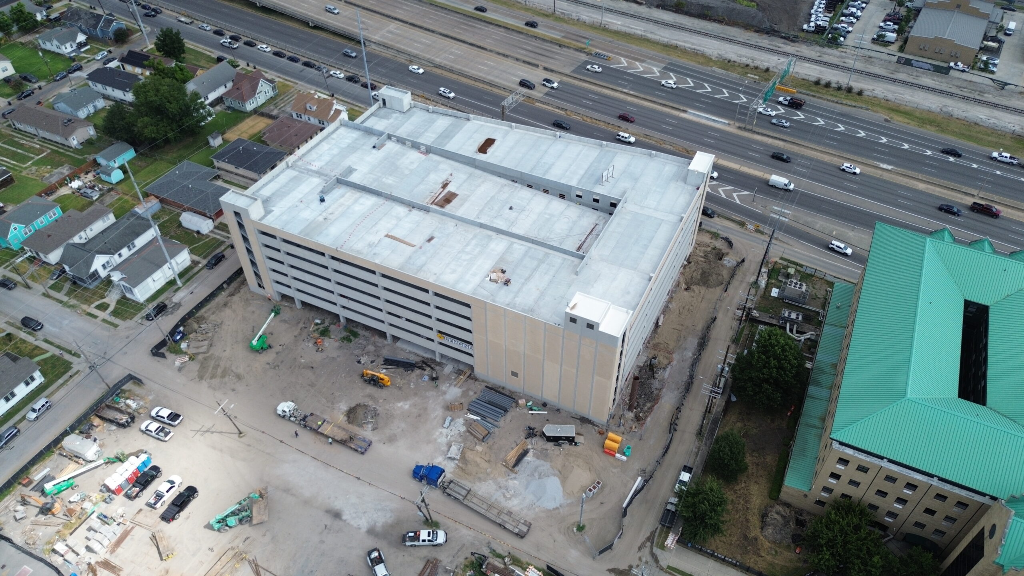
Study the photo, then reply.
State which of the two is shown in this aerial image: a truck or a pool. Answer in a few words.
truck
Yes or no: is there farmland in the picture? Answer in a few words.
No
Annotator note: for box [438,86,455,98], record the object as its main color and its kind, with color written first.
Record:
white vehicle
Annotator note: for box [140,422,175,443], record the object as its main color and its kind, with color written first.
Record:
white truck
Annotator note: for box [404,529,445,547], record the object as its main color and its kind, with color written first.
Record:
white vehicle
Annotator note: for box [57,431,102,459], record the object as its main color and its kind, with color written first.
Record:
white trailer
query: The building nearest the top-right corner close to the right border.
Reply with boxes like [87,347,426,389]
[893,0,1009,66]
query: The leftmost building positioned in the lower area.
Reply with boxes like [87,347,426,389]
[0,351,45,419]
